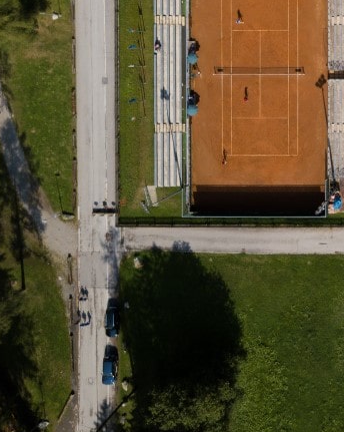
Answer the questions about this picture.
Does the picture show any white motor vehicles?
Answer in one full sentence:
No, the picture doesn't show any white motor vehicle.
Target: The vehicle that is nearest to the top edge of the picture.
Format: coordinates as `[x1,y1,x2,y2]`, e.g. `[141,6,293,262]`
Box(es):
[103,304,121,337]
